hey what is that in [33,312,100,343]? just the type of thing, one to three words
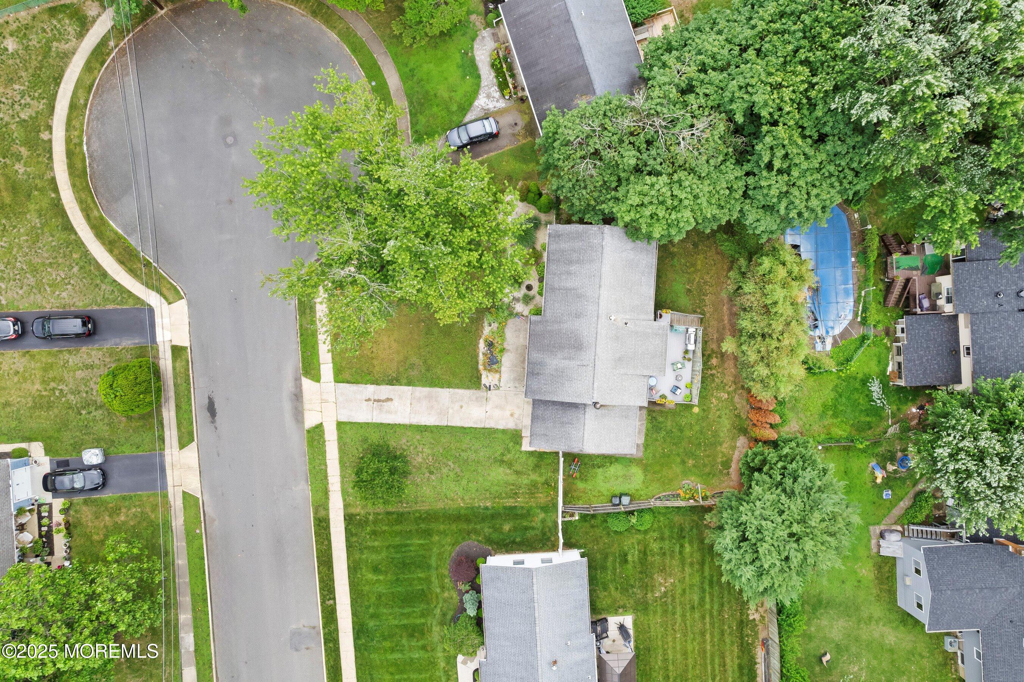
car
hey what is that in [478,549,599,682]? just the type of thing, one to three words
house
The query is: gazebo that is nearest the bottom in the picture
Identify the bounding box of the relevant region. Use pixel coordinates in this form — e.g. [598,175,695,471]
[598,642,639,682]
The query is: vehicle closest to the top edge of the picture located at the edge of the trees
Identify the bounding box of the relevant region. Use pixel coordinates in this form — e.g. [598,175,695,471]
[444,115,503,151]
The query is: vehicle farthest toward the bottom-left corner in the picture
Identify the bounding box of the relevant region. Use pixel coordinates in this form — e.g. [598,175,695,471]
[40,466,110,496]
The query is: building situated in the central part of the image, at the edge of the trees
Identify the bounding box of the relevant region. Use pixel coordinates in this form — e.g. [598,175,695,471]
[523,225,671,455]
